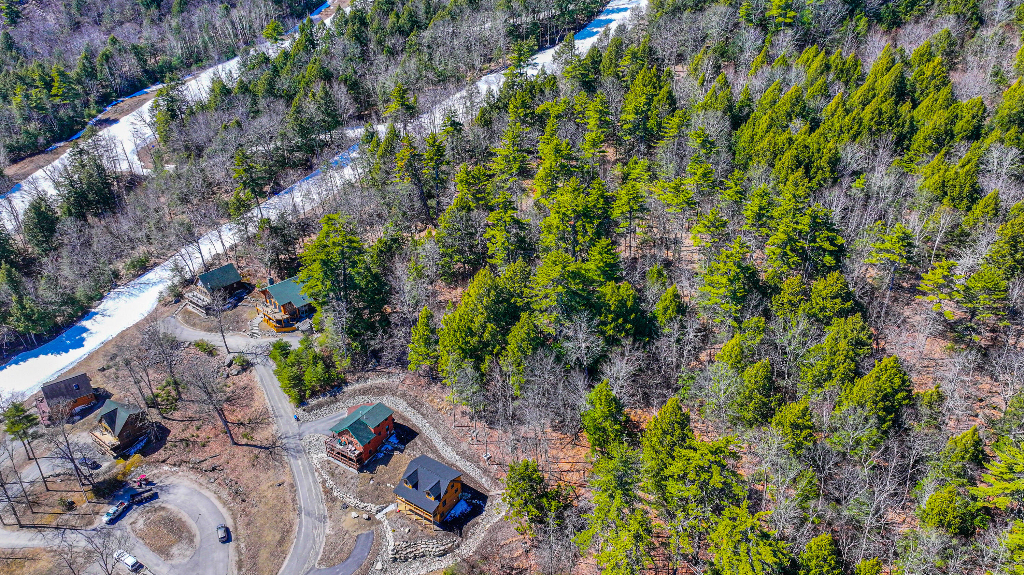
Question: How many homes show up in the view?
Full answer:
The photo contains 6 homes.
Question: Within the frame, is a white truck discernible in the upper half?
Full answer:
No, no white truck is visible in the upper half.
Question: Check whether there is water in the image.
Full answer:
No, there's no water in this view.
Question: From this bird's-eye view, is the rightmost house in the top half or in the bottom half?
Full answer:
Seen from above, the rightmost house lies in the bottom half of the view.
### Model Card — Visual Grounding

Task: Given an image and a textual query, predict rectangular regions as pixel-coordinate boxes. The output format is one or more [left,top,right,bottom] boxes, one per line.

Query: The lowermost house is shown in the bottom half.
[392,455,463,530]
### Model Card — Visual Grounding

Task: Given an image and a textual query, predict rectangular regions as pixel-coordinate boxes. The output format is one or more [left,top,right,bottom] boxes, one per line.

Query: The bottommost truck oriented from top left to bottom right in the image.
[114,550,143,572]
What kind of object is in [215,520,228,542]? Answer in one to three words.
vehicle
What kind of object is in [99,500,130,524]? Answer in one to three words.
truck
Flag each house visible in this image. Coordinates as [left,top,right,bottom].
[325,402,396,475]
[33,372,96,429]
[184,263,243,316]
[256,274,320,331]
[392,455,463,530]
[87,399,147,457]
